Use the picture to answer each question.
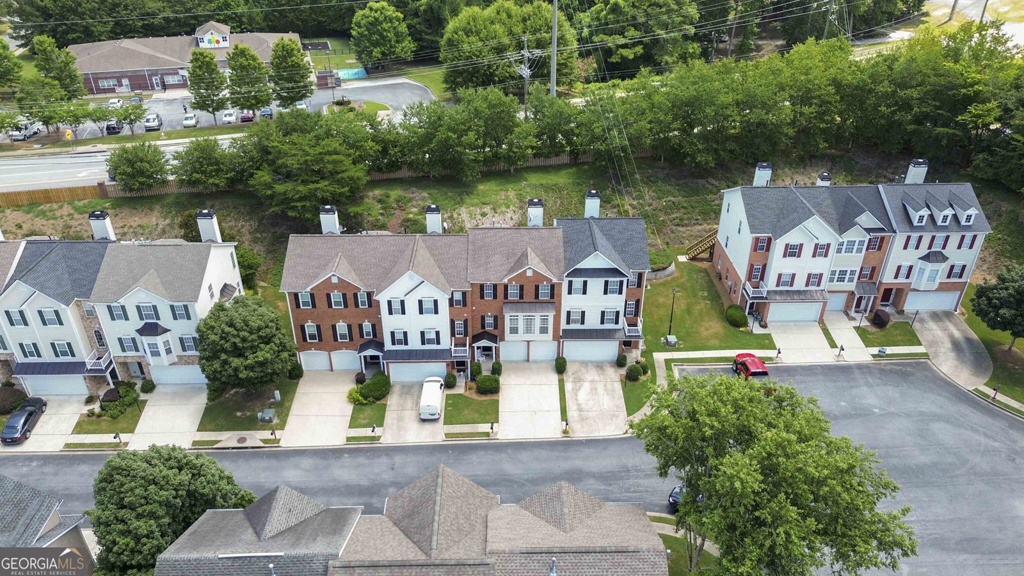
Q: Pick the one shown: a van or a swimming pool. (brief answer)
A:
van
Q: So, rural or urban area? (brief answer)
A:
urban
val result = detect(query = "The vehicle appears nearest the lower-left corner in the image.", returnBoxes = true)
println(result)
[2,397,49,441]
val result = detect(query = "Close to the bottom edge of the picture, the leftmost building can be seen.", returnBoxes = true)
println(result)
[0,473,100,576]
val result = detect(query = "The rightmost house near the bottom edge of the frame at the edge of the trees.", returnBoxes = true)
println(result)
[489,481,671,576]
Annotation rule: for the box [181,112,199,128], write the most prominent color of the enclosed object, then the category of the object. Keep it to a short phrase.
white car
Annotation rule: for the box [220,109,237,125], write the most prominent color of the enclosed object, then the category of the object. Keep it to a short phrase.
white car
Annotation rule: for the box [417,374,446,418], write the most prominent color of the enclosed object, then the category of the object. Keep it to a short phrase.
white van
